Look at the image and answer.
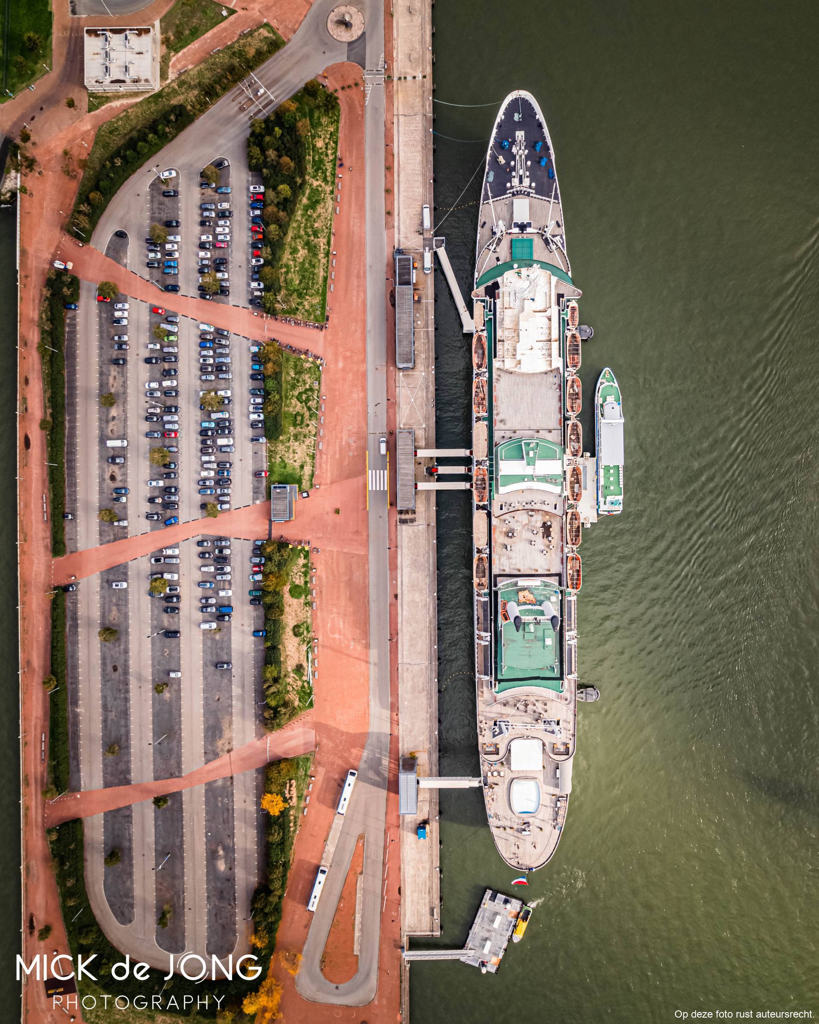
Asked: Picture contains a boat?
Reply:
Yes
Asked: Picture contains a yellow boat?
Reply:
Yes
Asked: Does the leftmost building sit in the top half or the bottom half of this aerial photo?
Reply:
top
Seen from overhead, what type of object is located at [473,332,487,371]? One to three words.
boat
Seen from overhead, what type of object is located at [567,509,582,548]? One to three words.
boat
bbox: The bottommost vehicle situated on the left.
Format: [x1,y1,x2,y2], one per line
[308,863,328,911]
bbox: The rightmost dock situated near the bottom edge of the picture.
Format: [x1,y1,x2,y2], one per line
[459,888,525,974]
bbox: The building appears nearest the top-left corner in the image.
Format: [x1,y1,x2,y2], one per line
[84,27,156,92]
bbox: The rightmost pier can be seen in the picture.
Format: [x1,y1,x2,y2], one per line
[577,453,597,531]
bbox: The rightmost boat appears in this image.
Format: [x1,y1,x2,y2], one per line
[594,367,625,517]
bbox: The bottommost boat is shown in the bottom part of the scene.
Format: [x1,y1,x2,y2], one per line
[515,905,532,941]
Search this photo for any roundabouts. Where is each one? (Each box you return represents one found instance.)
[326,3,365,43]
